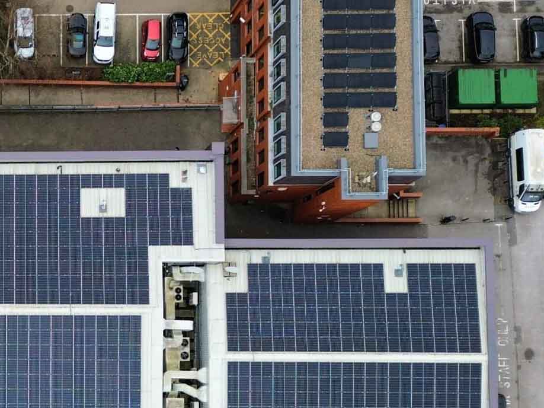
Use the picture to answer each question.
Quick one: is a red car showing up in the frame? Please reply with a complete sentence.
Yes, I can see a red car in this picture.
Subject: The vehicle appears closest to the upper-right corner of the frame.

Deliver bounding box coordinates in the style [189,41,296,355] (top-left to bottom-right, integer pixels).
[520,15,544,63]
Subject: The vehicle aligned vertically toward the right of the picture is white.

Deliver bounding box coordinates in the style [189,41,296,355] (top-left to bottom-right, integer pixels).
[508,130,544,211]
